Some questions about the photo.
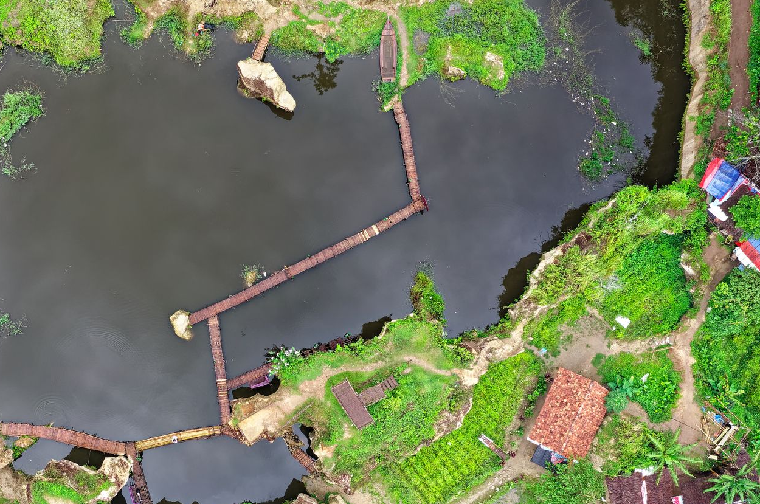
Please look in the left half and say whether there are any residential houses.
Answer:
No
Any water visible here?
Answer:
Yes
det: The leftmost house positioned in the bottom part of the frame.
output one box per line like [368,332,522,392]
[520,368,609,469]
